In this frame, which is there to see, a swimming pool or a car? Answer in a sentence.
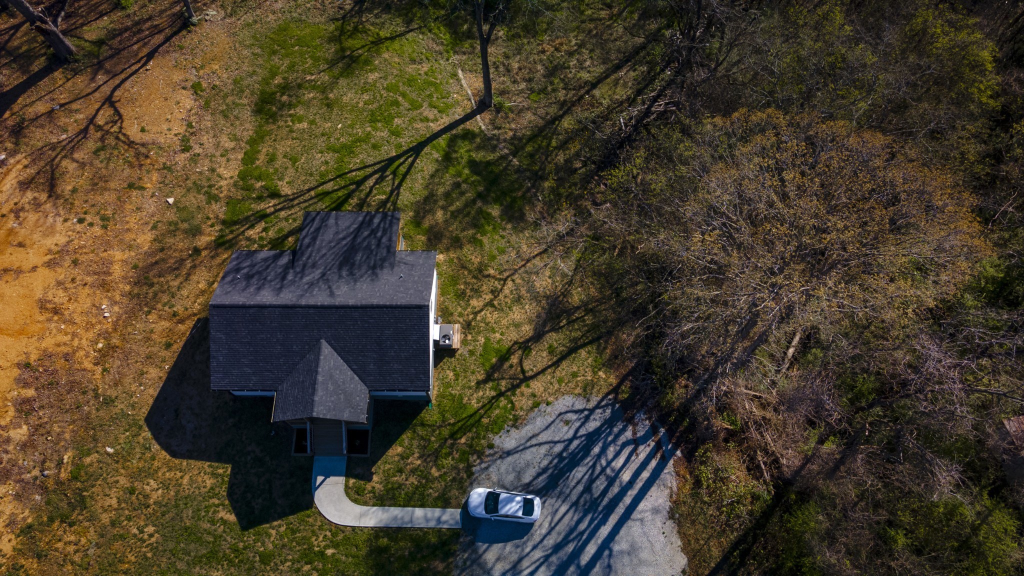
Visible in the photo is a car.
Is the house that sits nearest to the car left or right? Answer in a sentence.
It is on the left.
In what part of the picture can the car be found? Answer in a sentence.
The car appears toward the bottom of the photo.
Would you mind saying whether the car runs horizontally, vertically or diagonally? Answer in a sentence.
What the image shows is the car lying horizontally.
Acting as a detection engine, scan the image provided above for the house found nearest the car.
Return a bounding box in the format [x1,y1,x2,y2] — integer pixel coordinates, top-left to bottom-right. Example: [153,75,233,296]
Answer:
[209,212,440,456]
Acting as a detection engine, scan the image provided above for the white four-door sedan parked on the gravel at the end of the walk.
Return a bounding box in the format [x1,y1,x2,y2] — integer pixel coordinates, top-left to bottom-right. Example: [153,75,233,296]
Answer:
[468,485,541,523]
